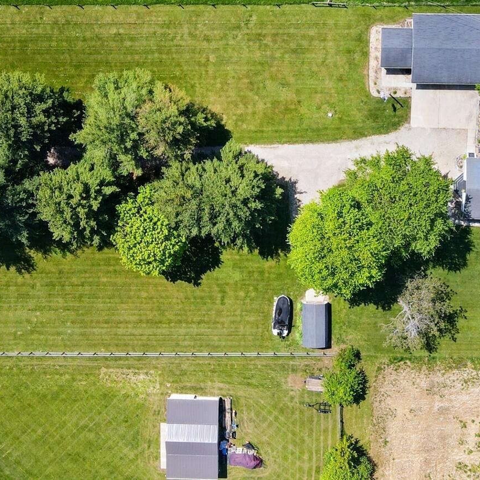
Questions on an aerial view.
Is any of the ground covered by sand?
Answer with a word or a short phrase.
No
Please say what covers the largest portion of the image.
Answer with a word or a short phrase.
grass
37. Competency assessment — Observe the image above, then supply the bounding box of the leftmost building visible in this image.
[164,393,220,480]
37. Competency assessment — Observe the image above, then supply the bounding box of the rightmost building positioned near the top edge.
[412,13,480,84]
